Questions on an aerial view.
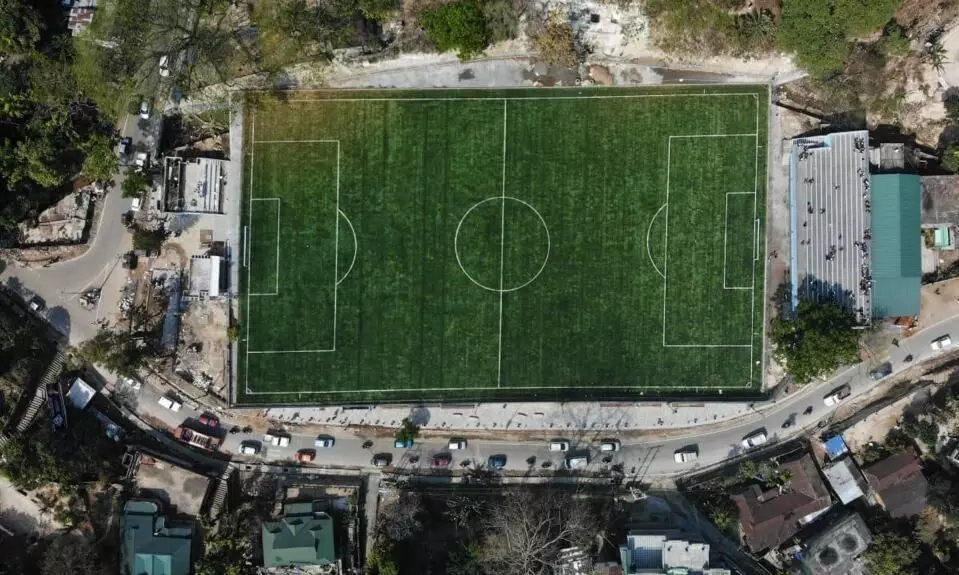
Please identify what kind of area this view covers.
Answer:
sports ground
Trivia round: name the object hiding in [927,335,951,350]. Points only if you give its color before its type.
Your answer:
white car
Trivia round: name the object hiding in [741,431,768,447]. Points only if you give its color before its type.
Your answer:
white car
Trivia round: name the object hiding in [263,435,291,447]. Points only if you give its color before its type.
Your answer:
white vehicle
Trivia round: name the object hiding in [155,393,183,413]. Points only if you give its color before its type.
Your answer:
white vehicle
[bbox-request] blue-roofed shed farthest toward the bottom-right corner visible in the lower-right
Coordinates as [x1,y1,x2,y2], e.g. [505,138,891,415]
[820,435,848,458]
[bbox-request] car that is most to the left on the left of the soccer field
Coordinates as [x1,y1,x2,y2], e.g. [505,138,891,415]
[28,297,44,311]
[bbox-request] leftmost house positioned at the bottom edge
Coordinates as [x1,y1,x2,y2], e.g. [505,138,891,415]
[125,499,200,575]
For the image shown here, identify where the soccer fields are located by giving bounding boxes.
[237,85,769,405]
